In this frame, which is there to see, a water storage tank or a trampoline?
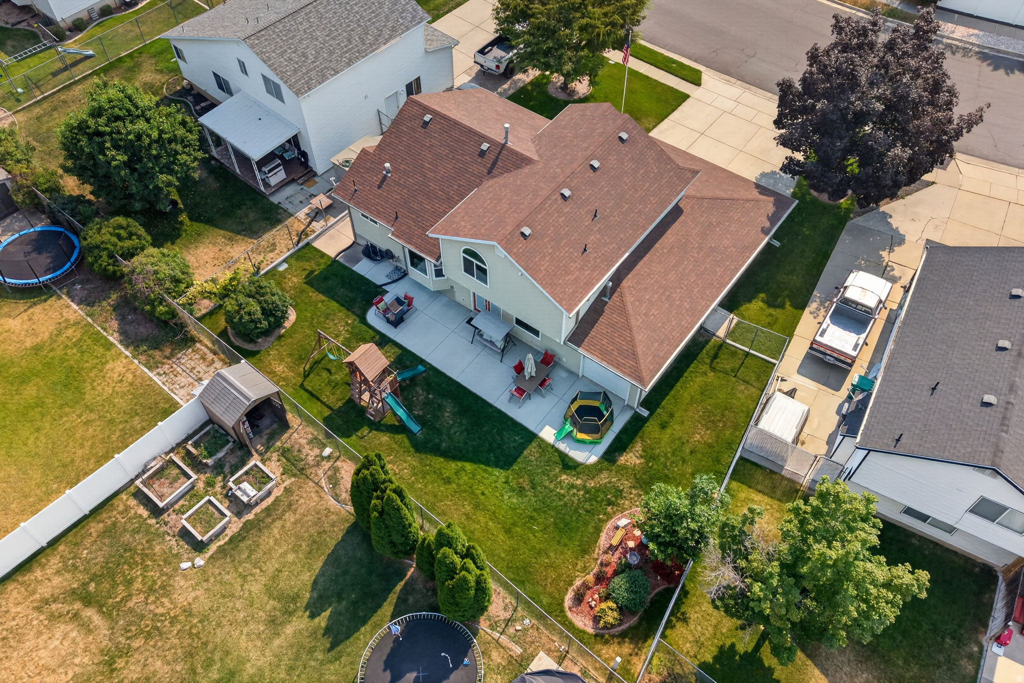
trampoline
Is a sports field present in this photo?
No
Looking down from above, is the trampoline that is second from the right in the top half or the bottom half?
bottom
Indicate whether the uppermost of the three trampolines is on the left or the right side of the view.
left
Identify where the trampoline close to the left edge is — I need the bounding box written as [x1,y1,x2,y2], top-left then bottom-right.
[0,208,81,305]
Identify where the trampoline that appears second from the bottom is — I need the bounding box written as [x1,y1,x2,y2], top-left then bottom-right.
[552,387,619,444]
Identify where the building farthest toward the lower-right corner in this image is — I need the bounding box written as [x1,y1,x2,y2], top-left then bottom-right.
[827,248,1024,574]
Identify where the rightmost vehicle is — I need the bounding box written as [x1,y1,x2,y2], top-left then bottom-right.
[807,269,892,372]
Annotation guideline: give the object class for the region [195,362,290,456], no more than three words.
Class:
shed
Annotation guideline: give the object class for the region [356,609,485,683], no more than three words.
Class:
trampoline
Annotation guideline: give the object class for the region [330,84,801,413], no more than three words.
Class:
house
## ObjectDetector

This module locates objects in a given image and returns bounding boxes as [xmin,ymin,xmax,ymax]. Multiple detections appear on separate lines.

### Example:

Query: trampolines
[552,387,619,444]
[0,208,81,305]
[356,609,485,683]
